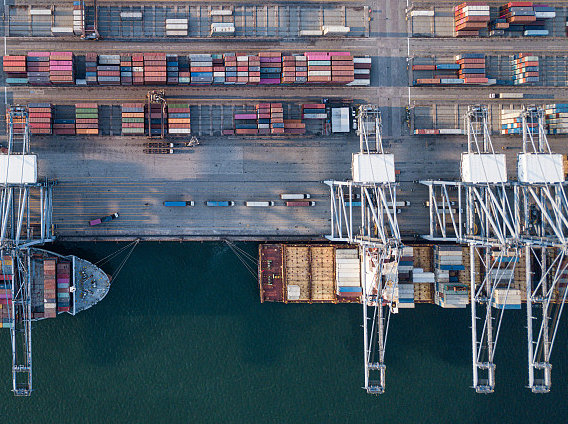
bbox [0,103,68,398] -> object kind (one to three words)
container crane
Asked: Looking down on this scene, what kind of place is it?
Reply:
port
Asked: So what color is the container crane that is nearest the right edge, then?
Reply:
white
